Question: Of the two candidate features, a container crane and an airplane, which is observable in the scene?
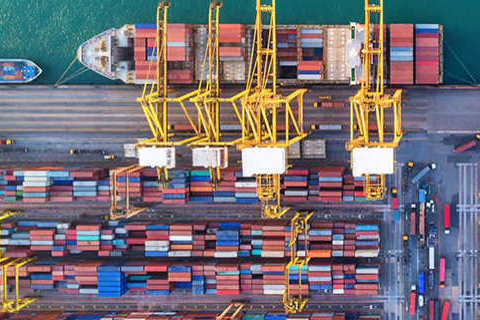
container crane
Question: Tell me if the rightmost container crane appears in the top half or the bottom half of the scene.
top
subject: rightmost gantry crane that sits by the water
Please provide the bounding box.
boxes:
[346,0,409,200]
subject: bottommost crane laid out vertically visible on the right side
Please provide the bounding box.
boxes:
[286,256,311,320]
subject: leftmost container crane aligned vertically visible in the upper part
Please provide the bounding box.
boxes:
[136,4,207,192]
